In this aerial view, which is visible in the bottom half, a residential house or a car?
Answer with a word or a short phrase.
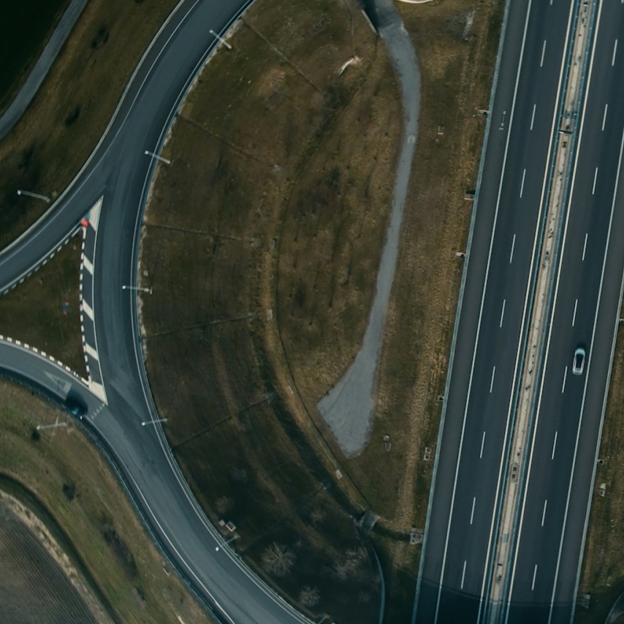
car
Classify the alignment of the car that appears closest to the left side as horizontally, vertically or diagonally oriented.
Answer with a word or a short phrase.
diagonally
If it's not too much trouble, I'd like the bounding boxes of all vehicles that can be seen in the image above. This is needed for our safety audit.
[64,394,90,419]
[574,347,586,375]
